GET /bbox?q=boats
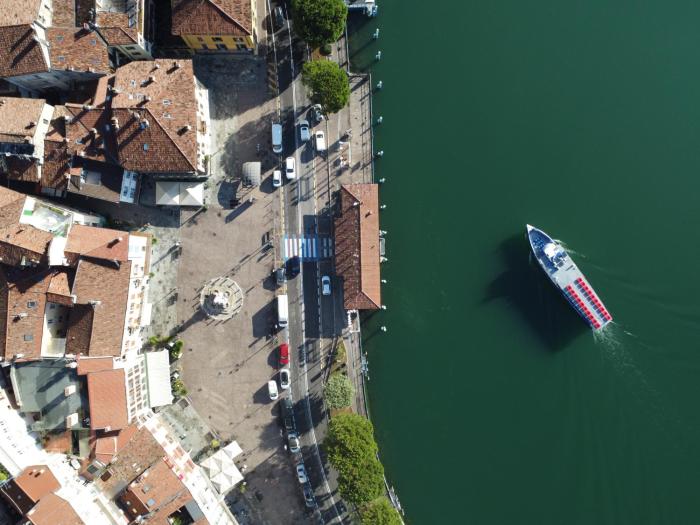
[527,224,615,332]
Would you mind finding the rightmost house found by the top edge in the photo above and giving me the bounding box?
[170,0,256,53]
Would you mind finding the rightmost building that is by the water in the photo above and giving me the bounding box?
[334,183,381,310]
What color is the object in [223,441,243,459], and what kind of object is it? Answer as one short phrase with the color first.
white umbrella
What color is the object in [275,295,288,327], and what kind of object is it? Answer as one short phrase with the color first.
white vehicle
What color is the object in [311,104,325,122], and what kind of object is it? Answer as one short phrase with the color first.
gray vehicle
